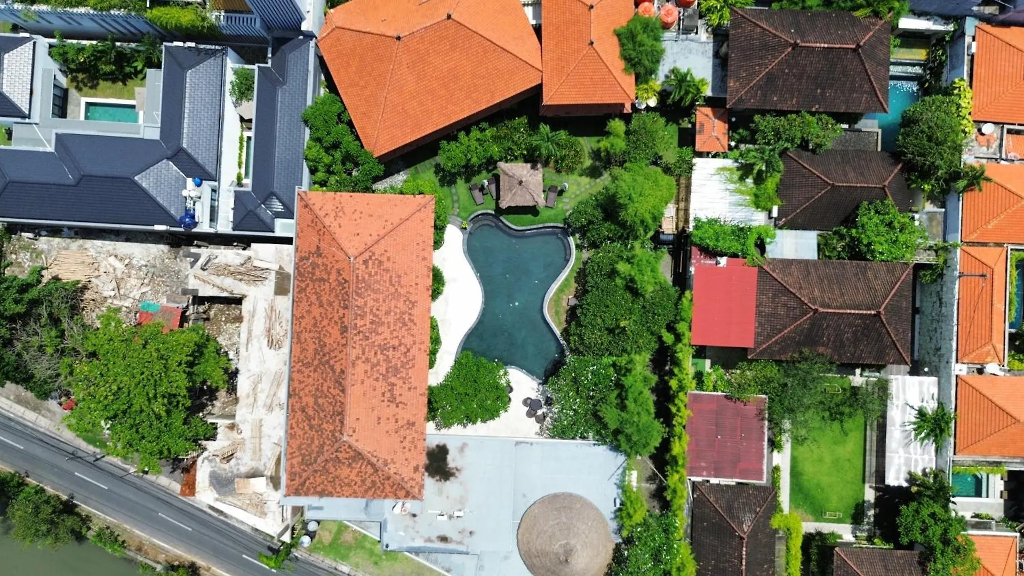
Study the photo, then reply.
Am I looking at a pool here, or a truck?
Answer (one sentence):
There is a pool in the scene.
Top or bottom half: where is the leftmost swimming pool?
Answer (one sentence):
The leftmost swimming pool sits in the top half of the picture.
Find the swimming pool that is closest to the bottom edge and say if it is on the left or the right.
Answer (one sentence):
The swimming pool that is closest to the bottom edge sits on the right side.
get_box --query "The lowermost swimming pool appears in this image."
[953,474,1003,501]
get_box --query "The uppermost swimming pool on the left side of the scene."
[80,98,143,123]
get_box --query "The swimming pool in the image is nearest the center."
[457,209,575,388]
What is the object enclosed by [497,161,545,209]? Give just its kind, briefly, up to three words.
gazebo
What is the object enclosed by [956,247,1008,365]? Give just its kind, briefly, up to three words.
house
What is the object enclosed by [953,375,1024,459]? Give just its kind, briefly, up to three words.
house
